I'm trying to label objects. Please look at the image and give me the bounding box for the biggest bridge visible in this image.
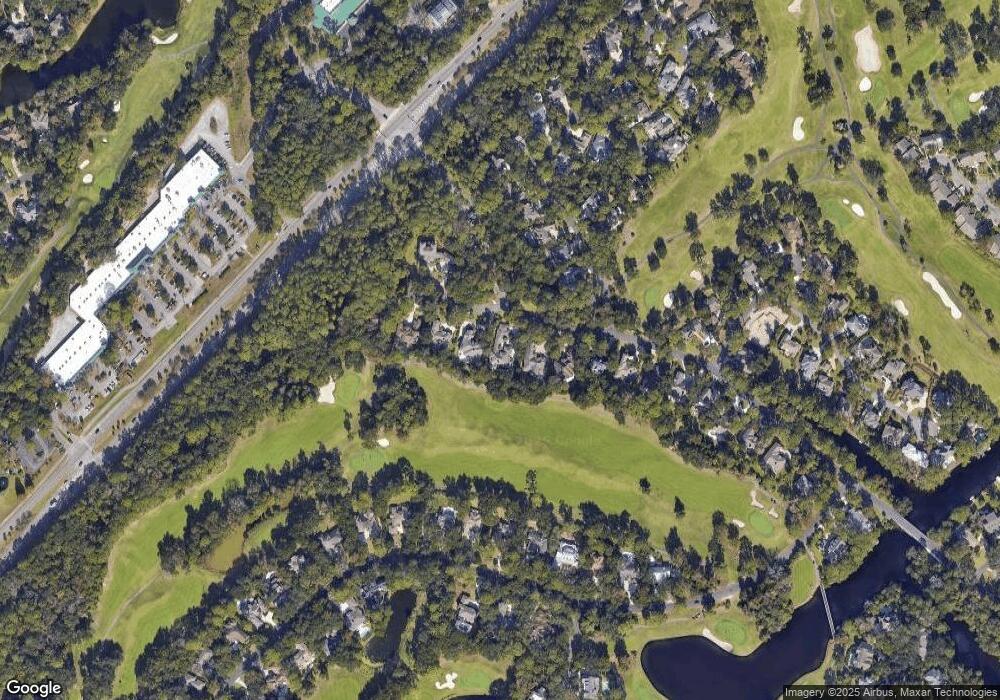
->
[888,509,941,556]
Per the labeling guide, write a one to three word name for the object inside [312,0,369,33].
building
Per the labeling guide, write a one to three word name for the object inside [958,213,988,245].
house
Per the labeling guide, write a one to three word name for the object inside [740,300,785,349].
house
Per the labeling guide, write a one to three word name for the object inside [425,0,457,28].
building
